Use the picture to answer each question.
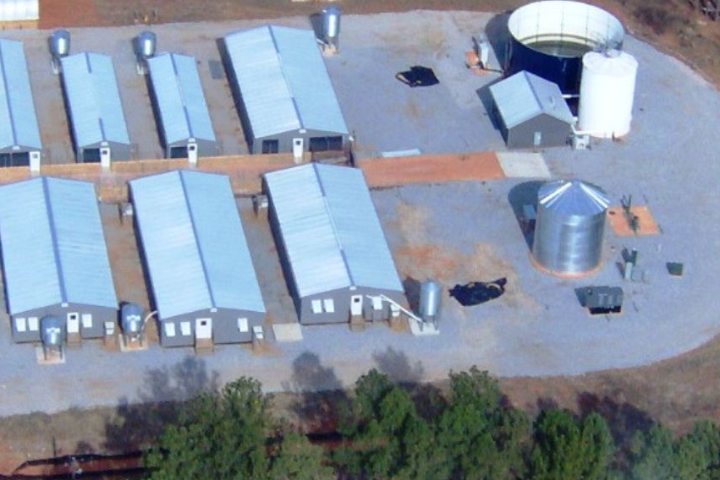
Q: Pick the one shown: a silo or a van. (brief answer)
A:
silo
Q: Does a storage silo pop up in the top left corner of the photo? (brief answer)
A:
No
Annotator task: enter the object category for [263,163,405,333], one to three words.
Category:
building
